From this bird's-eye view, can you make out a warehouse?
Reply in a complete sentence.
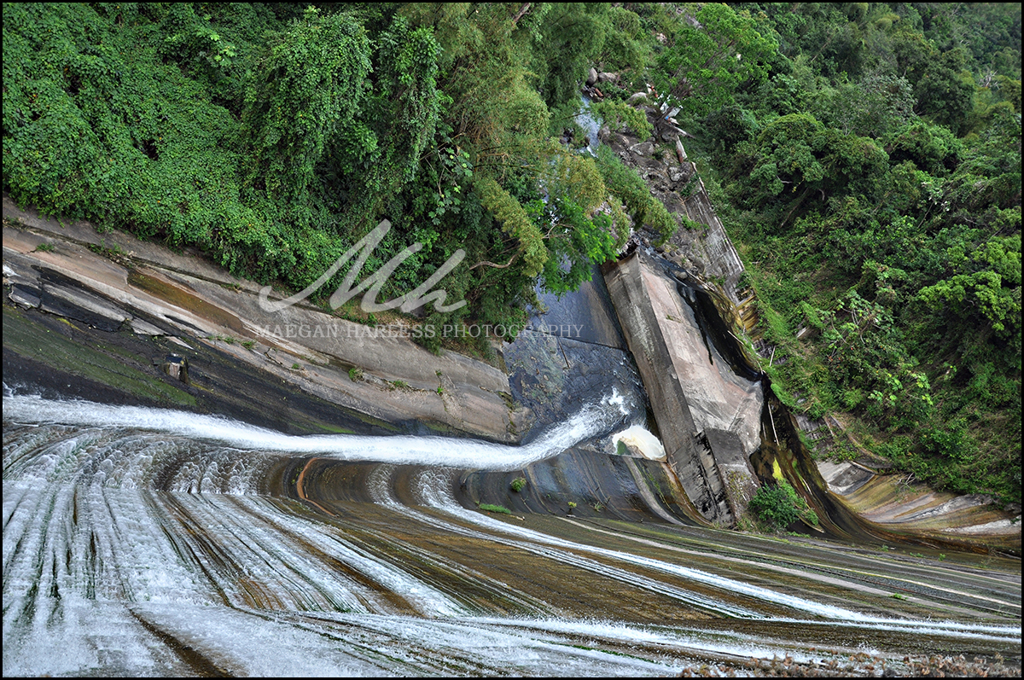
No, no warehouse can be seen from above.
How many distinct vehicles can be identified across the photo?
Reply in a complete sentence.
There are no vehicles in this view.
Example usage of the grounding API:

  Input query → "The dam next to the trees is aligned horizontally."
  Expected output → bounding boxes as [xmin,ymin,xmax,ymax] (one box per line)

[0,425,1024,680]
